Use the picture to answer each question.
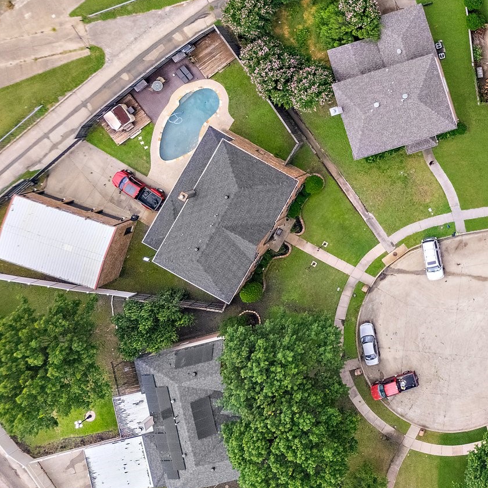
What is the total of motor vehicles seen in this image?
4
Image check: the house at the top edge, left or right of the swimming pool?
to the right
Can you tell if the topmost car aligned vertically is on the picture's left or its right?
right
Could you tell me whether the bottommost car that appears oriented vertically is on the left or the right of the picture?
right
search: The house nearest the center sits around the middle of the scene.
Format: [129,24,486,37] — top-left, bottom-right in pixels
[142,125,307,304]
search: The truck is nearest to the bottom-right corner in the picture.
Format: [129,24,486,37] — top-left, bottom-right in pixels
[369,371,421,401]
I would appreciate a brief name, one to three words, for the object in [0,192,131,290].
building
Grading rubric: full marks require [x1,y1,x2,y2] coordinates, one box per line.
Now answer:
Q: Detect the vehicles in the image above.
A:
[422,237,445,280]
[110,168,166,215]
[360,322,382,366]
[369,371,421,401]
